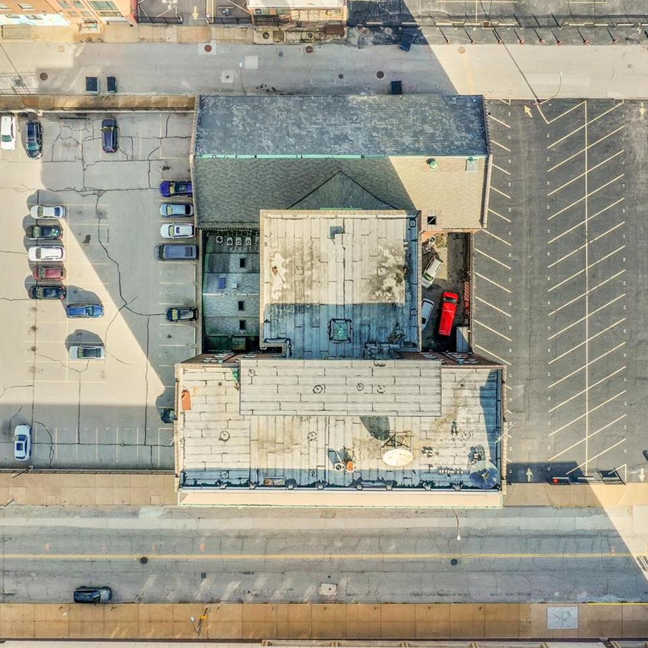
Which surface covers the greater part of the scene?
paved ground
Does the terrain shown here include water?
No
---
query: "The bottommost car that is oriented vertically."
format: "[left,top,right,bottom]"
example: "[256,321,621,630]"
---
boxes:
[14,425,31,461]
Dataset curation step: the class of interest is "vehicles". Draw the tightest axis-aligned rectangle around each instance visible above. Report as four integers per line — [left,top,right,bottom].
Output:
[67,302,103,318]
[165,306,198,323]
[161,222,196,239]
[159,202,194,218]
[159,408,176,424]
[74,586,110,604]
[24,121,43,158]
[69,344,105,359]
[0,113,18,150]
[420,252,445,287]
[156,242,197,259]
[437,291,460,336]
[101,119,119,154]
[30,284,66,300]
[159,181,193,197]
[26,223,62,239]
[31,204,67,219]
[31,245,64,260]
[34,266,65,280]
[14,425,31,461]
